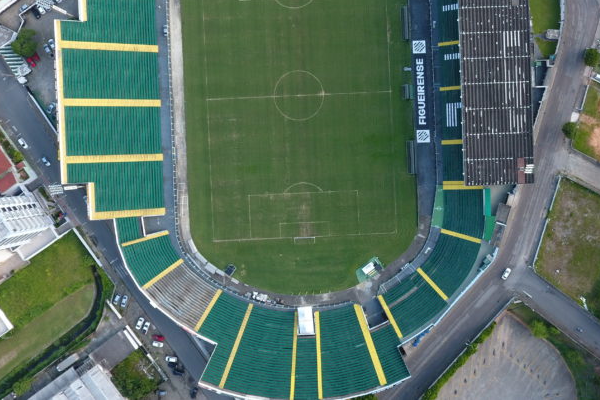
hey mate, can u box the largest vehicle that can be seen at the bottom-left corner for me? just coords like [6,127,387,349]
[57,350,84,371]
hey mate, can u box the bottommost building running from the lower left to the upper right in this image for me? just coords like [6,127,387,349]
[31,364,82,400]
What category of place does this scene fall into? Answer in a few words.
sports ground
